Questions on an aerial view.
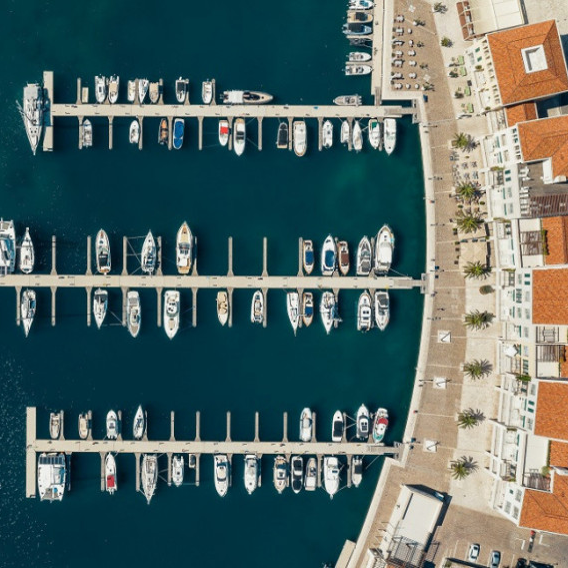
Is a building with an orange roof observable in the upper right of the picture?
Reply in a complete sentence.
Yes, a building with an orange roof shows up in the upper right of the picture.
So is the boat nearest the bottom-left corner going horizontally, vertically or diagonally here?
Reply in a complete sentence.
The boat nearest the bottom-left corner runs vertically in the image.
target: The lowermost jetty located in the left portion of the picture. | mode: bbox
[26,406,384,498]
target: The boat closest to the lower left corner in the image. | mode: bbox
[38,452,65,507]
